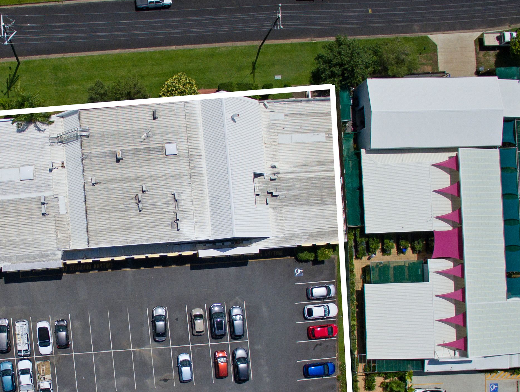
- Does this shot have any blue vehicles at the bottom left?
Yes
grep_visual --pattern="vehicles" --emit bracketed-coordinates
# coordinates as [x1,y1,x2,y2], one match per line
[0,360,17,392]
[135,0,173,9]
[35,320,53,356]
[190,308,206,336]
[151,306,169,342]
[232,346,251,384]
[302,302,339,320]
[305,322,338,340]
[15,319,32,357]
[209,304,227,340]
[53,319,70,349]
[481,28,519,47]
[35,360,54,392]
[214,349,230,378]
[176,352,193,384]
[17,358,35,392]
[0,317,13,354]
[305,283,336,299]
[228,306,246,340]
[301,361,336,378]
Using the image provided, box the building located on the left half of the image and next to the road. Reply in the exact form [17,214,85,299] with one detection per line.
[0,90,348,271]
